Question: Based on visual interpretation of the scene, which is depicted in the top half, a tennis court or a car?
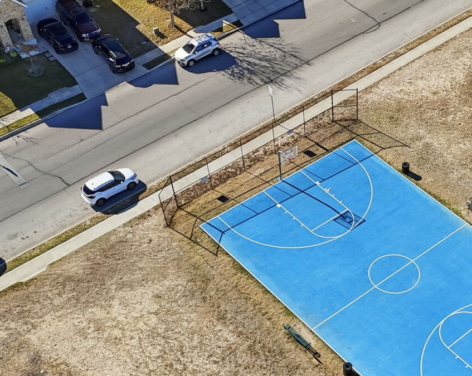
car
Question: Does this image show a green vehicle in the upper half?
No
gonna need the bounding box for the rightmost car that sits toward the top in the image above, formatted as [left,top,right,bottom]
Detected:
[173,32,221,67]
